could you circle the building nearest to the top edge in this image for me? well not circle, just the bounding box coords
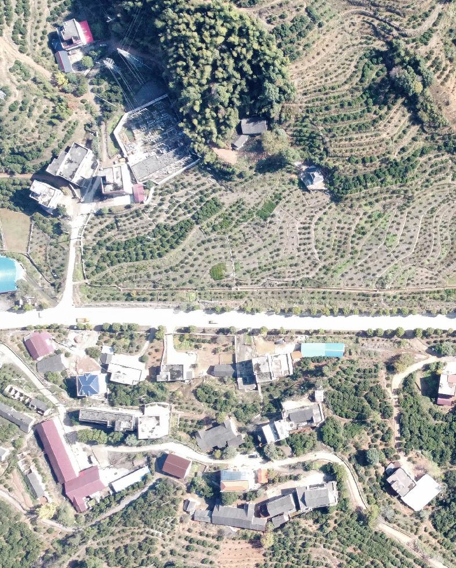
[60,20,99,51]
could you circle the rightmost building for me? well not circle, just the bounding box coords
[437,372,456,406]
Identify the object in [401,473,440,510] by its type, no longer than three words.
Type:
shed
